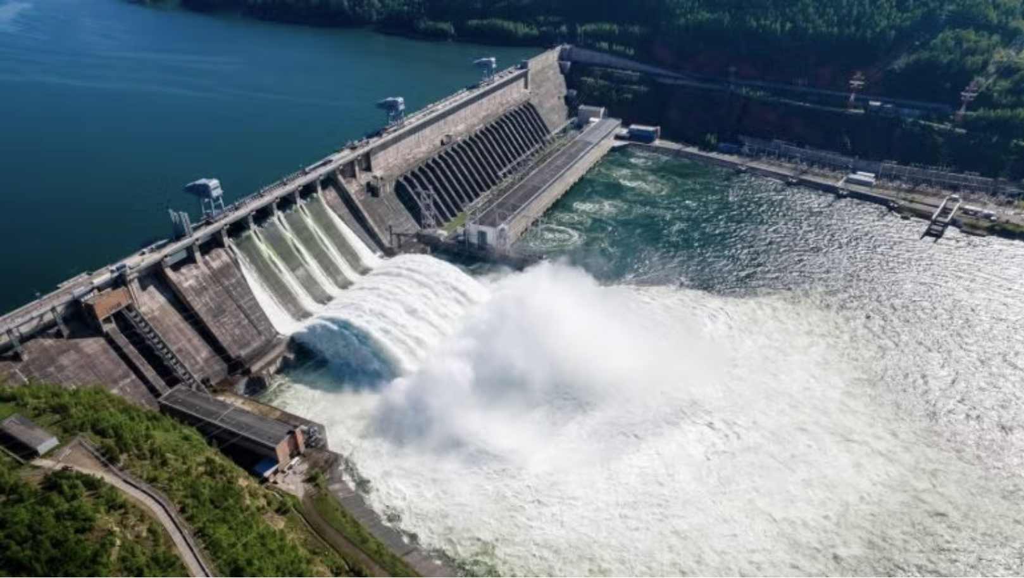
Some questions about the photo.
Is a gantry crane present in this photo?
Yes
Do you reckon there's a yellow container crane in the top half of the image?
No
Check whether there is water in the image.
Yes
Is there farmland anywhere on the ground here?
No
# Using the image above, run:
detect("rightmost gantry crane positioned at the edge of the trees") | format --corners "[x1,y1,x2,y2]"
[461,48,501,80]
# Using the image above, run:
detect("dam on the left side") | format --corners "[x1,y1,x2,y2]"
[0,48,587,442]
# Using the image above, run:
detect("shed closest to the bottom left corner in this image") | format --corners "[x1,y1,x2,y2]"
[4,417,60,459]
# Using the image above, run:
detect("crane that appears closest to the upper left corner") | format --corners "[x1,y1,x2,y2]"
[170,176,223,224]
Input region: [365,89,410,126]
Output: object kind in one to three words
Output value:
container crane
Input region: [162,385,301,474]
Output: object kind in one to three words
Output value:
building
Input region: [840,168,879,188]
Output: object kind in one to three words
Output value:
building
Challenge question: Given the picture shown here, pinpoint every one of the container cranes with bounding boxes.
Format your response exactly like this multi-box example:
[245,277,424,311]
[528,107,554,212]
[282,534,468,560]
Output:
[461,48,501,80]
[365,89,410,126]
[170,176,223,224]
